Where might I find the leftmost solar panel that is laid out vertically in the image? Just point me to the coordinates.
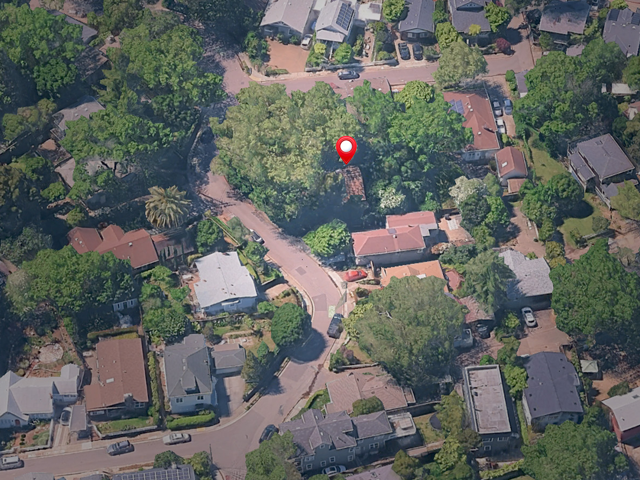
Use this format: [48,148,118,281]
[339,2,354,29]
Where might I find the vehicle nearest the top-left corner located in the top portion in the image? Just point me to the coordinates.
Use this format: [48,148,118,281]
[300,32,313,50]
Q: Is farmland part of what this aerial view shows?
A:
No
